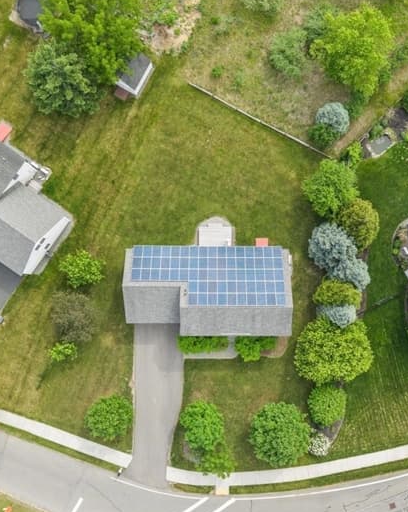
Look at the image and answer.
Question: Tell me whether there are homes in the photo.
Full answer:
Yes, there's a home here.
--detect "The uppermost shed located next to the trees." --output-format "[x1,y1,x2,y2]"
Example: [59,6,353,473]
[110,46,155,102]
